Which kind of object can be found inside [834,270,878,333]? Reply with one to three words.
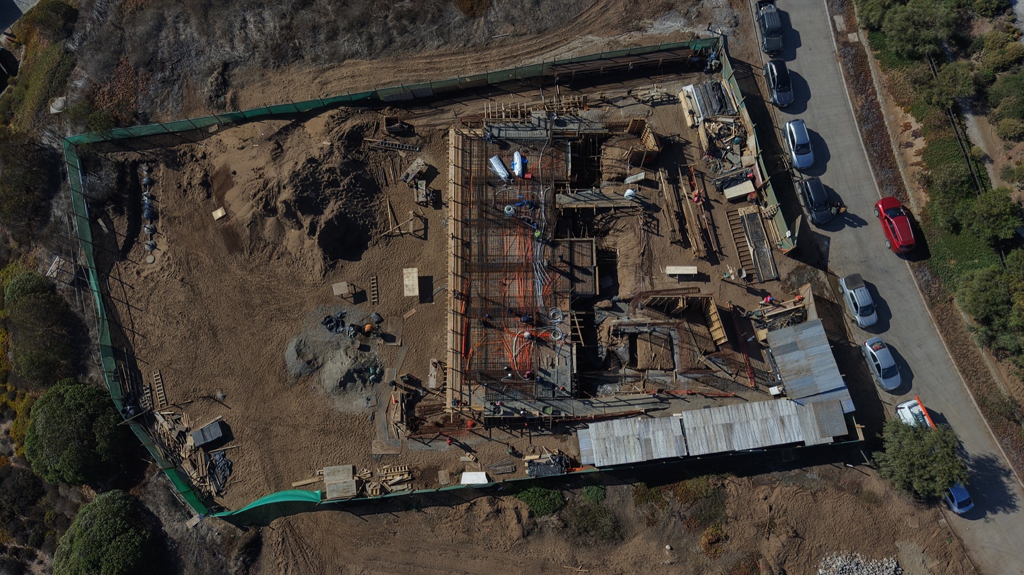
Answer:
truck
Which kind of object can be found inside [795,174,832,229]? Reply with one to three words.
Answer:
car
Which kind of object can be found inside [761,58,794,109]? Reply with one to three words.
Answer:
car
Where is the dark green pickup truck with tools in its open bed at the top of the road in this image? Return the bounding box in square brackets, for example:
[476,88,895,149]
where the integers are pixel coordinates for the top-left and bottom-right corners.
[752,0,784,54]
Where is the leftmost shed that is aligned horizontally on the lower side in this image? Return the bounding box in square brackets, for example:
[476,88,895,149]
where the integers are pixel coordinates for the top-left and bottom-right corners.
[588,414,688,467]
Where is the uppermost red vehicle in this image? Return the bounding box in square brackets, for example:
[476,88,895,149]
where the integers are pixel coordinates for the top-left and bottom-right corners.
[871,198,917,256]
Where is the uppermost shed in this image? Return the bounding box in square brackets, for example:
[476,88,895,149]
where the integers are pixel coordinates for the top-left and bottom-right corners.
[760,319,857,416]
